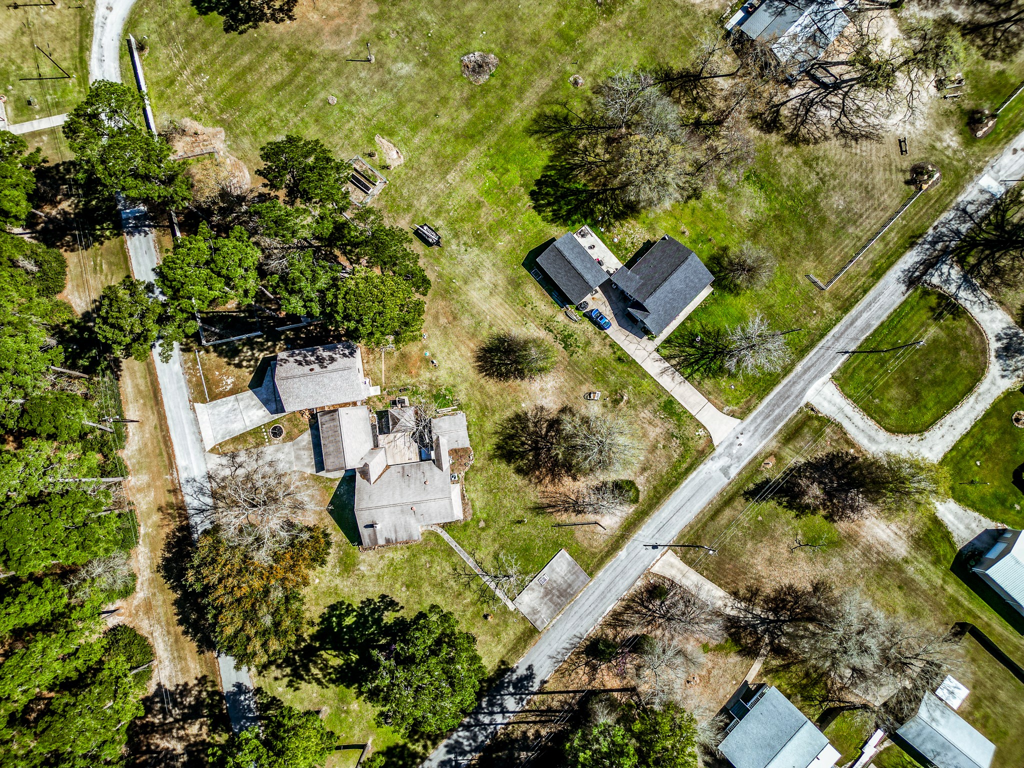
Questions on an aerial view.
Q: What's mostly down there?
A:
grass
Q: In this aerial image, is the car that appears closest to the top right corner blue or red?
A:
blue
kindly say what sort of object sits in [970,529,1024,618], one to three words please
barn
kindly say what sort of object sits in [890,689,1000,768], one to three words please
house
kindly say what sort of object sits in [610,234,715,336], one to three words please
house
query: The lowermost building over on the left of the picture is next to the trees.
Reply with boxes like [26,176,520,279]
[318,406,470,547]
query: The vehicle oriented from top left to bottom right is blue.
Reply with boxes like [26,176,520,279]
[590,308,613,331]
